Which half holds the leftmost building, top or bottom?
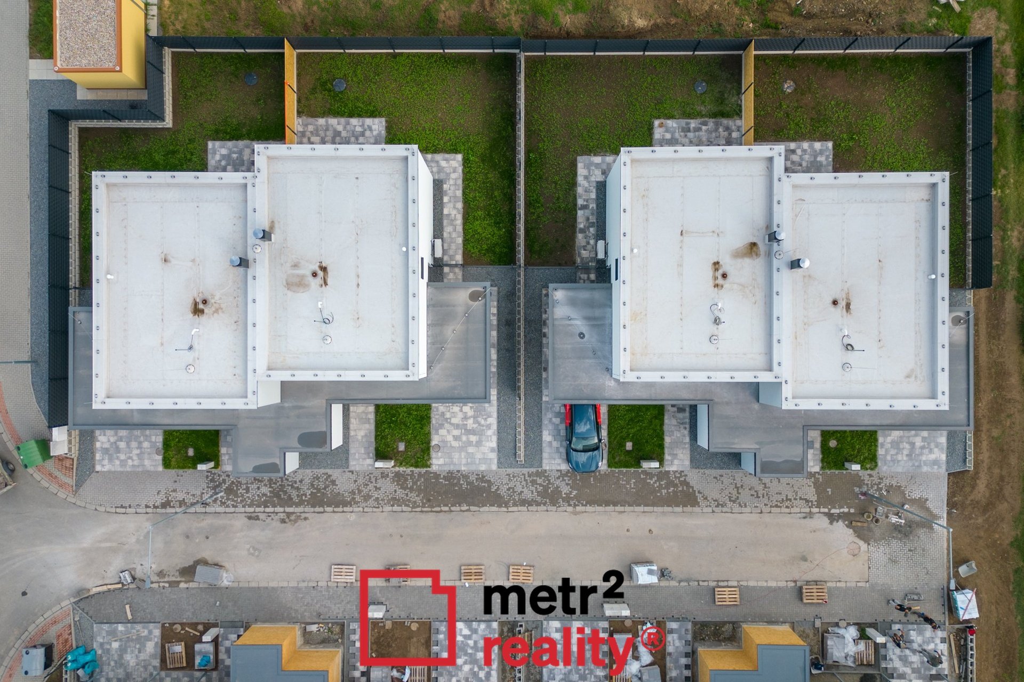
top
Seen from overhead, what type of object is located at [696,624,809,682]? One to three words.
house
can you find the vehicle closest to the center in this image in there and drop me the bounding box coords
[562,405,606,473]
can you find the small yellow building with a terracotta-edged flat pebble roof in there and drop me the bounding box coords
[54,0,147,89]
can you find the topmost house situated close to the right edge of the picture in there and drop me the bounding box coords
[741,172,975,478]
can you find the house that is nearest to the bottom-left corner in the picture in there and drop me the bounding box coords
[231,625,342,682]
